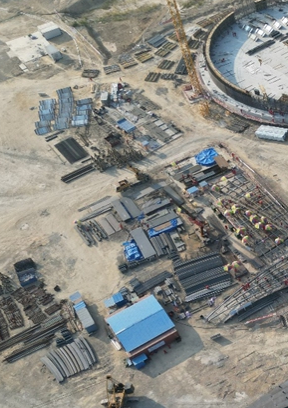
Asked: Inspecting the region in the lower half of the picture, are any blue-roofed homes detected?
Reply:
Yes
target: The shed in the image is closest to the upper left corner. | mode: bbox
[37,23,63,41]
